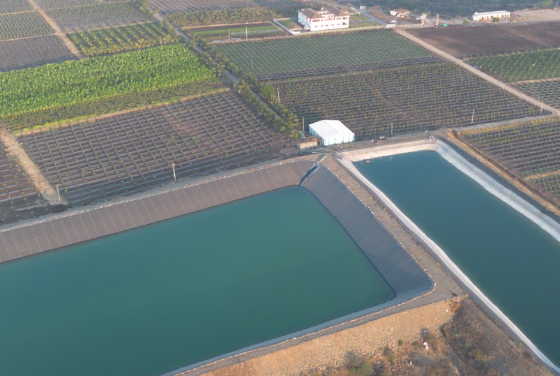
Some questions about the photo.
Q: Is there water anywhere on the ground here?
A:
Yes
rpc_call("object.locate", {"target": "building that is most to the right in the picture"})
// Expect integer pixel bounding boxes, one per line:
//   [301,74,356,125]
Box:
[467,9,512,22]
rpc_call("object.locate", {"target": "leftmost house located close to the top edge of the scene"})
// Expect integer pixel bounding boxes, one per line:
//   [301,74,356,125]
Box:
[299,2,351,31]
